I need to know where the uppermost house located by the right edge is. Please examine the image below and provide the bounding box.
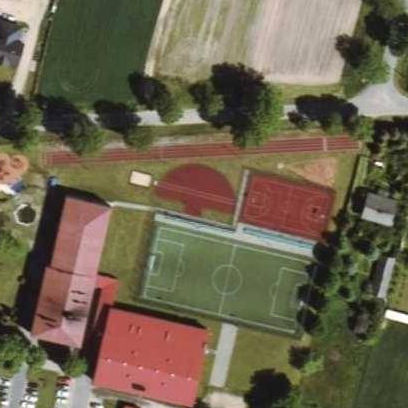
[361,194,397,226]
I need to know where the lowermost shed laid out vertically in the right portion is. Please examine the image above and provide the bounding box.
[377,258,395,300]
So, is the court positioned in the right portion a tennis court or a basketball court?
basketball court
